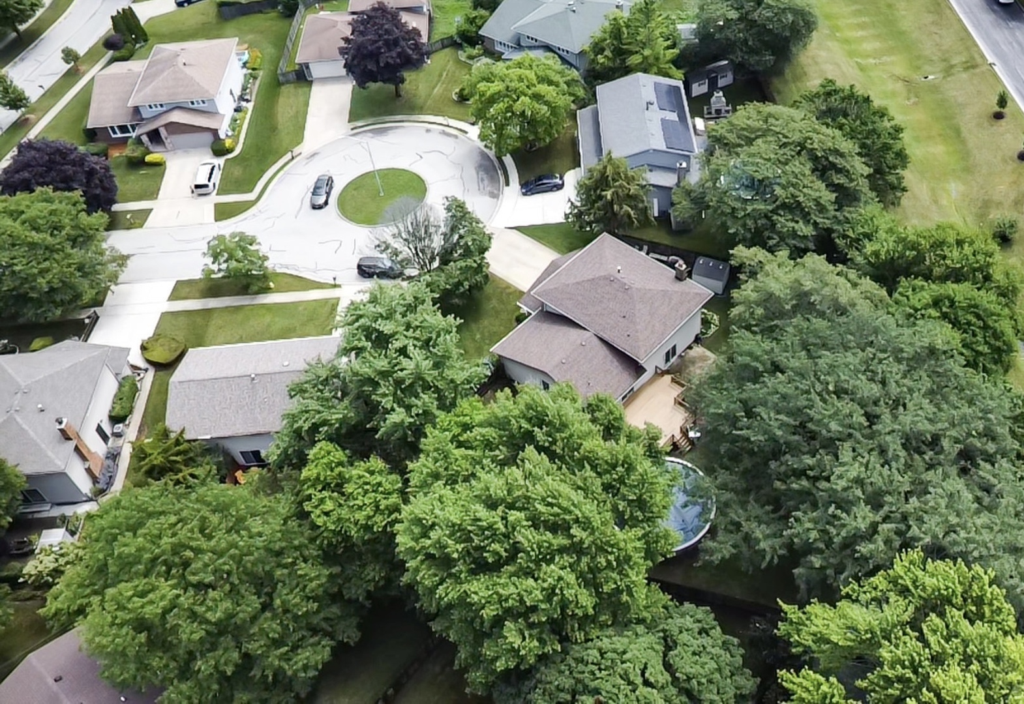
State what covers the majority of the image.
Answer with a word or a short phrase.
trees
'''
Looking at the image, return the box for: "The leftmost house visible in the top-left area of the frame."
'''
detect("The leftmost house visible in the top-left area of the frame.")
[81,38,247,163]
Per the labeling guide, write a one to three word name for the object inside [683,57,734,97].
shed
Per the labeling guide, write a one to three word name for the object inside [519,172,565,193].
car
